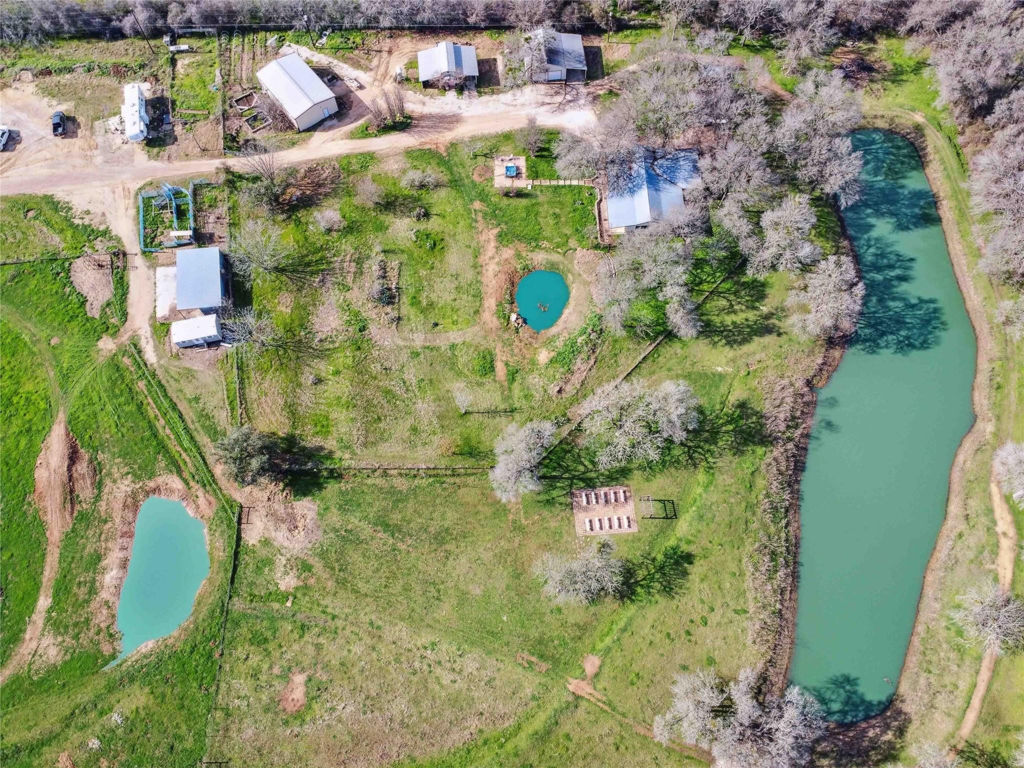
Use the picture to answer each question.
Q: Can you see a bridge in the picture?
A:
No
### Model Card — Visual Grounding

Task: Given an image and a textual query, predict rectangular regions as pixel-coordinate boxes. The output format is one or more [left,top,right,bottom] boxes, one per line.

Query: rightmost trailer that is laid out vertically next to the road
[122,84,152,146]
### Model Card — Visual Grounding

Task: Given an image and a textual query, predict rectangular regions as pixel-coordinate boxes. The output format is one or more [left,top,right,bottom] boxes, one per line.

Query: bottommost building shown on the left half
[172,316,225,357]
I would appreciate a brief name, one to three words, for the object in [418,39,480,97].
house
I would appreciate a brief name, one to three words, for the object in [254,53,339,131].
building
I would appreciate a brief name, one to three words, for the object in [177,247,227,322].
barn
